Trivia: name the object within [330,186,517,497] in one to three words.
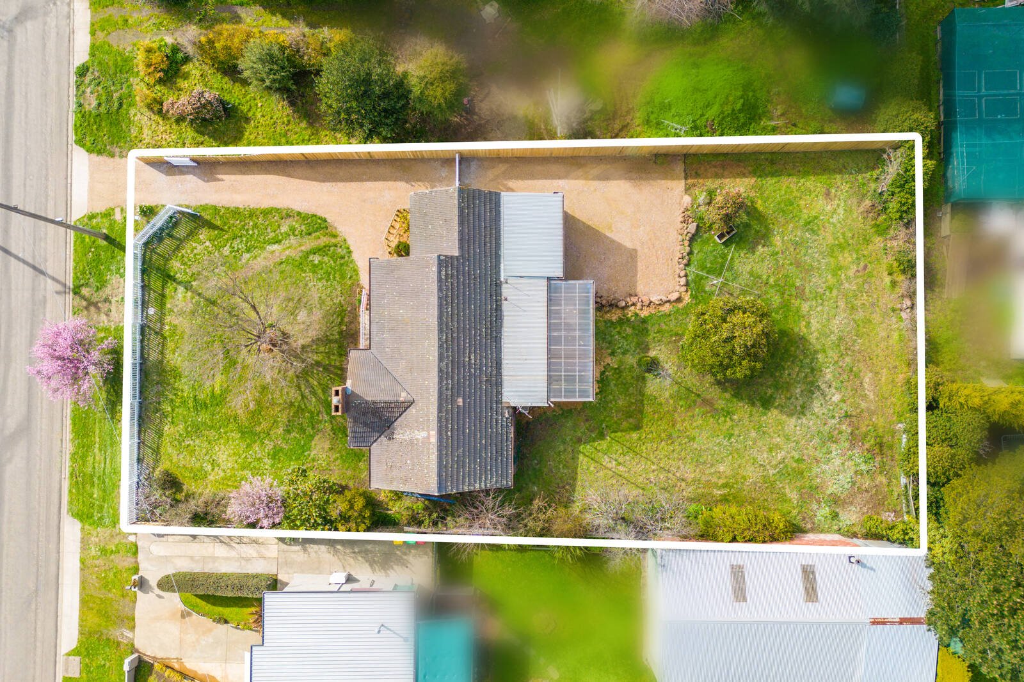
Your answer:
house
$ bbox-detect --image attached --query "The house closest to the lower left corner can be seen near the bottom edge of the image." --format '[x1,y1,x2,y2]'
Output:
[248,576,418,682]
